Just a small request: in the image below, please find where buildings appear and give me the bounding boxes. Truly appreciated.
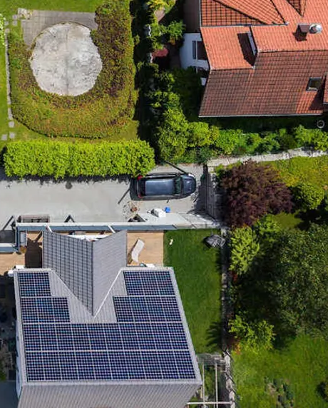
[182,0,328,119]
[14,225,201,408]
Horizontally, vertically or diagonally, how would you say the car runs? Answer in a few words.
horizontally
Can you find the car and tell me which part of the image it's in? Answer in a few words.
center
